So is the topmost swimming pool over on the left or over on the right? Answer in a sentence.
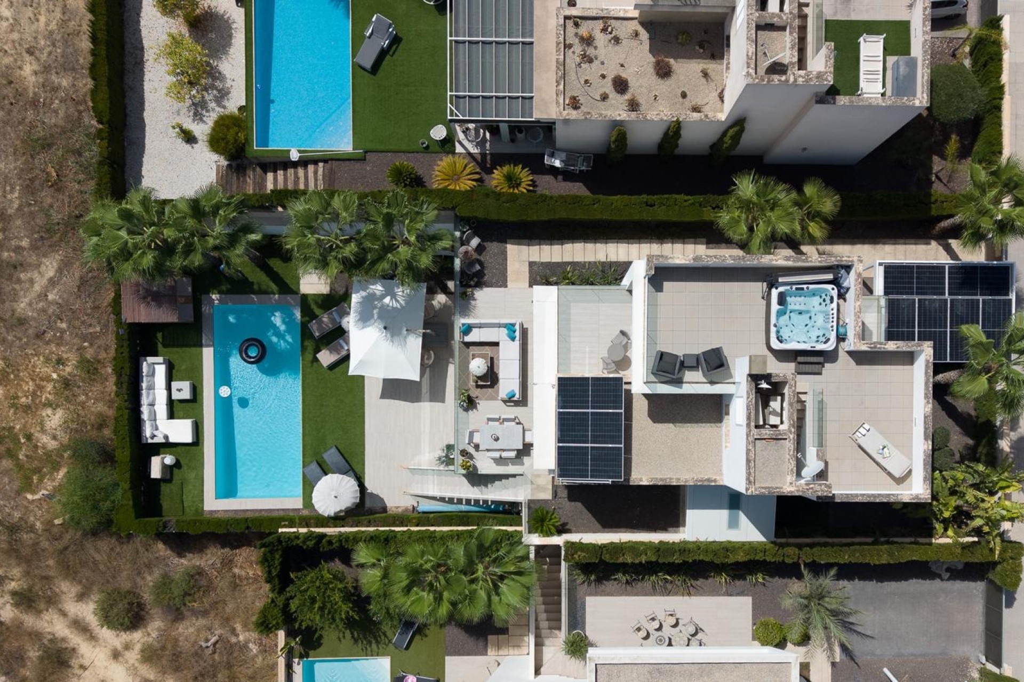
The topmost swimming pool is on the left side of the image.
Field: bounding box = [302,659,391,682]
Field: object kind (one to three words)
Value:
swimming pool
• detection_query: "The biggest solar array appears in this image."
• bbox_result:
[557,376,623,484]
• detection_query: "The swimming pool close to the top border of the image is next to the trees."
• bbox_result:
[254,0,352,149]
